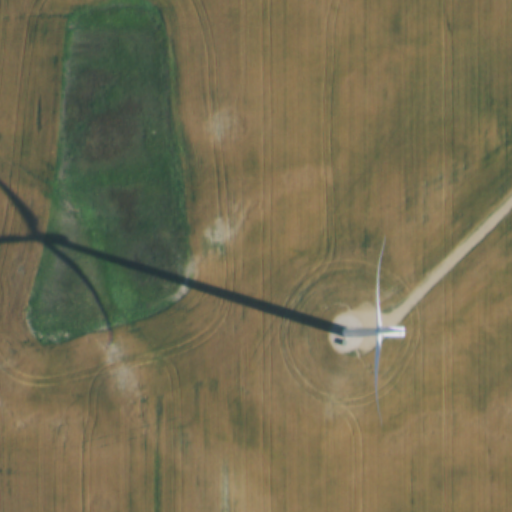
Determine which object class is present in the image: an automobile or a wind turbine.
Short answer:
wind turbine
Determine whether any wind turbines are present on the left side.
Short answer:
No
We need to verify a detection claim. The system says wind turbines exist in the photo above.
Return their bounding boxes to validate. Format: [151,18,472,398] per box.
[338,236,406,422]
